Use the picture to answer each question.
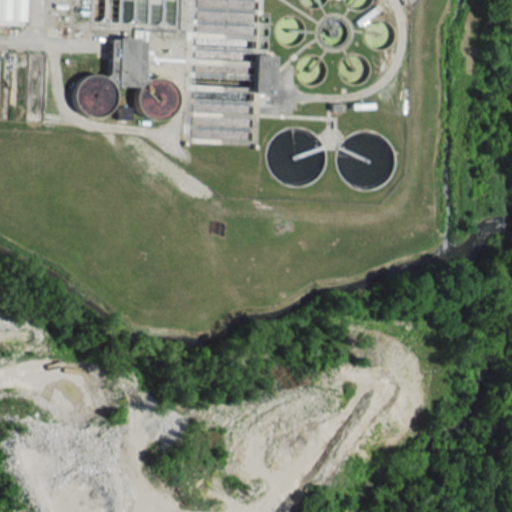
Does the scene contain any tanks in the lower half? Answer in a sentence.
No, looking in the lower half, there is no tank.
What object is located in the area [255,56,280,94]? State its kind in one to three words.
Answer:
building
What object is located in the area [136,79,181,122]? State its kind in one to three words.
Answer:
storage tank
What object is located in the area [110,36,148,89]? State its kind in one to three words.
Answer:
building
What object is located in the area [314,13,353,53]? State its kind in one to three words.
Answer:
storage tank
